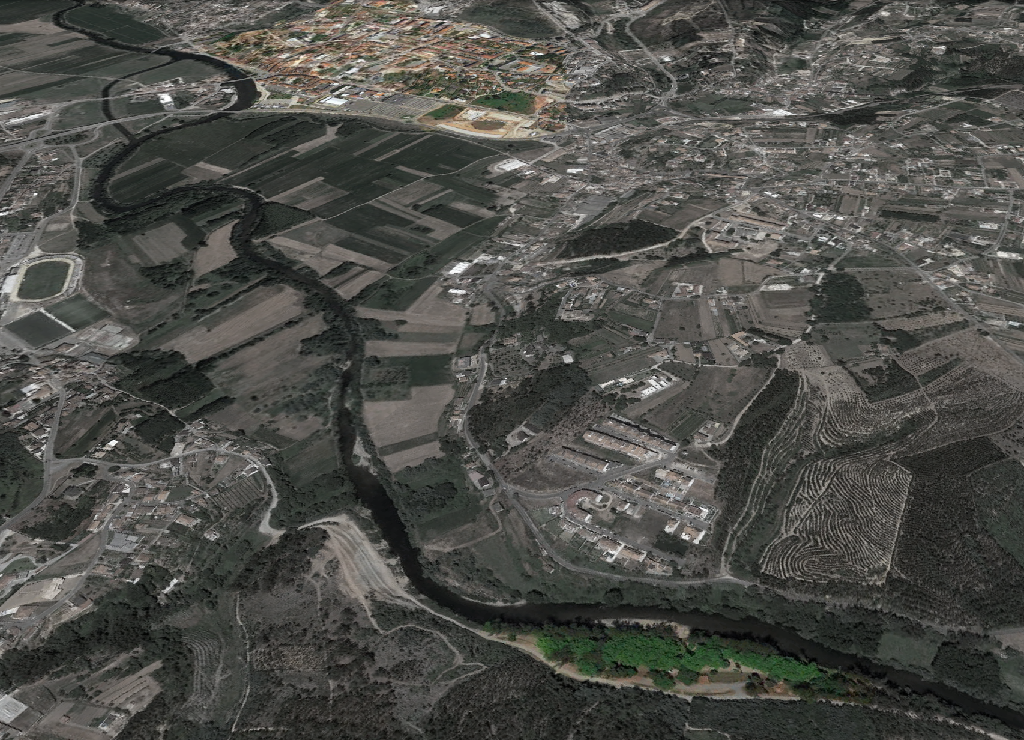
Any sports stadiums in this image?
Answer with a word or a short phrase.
Yes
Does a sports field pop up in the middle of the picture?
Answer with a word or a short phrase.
No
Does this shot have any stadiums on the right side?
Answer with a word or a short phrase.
No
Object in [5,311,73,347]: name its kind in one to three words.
sports field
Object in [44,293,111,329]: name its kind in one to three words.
sports field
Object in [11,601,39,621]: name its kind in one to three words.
house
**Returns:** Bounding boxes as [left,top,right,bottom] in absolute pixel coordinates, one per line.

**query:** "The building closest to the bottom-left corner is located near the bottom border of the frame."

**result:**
[0,688,28,726]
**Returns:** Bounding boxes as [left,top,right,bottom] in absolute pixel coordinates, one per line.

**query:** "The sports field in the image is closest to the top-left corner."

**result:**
[17,260,70,298]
